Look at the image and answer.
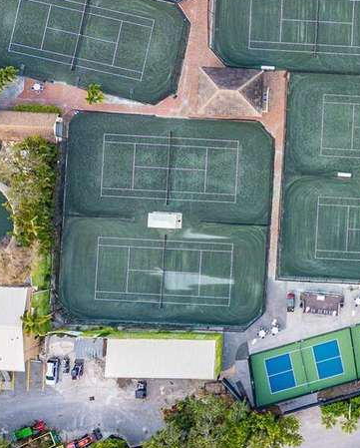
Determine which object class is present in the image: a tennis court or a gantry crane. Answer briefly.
tennis court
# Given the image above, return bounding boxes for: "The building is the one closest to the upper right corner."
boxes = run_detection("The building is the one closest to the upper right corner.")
[197,67,266,116]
